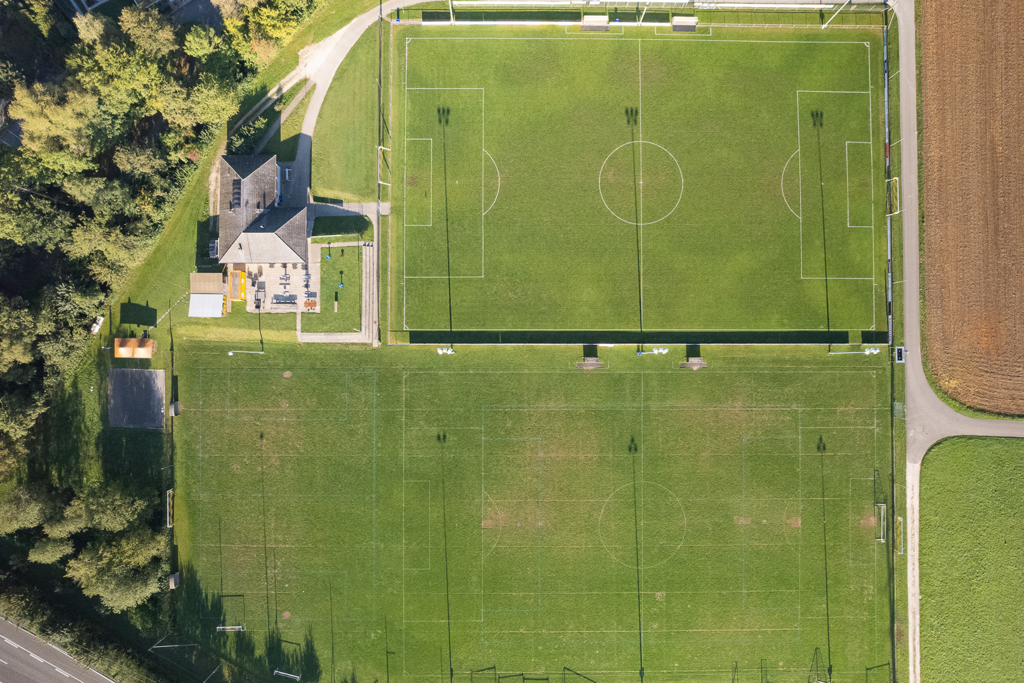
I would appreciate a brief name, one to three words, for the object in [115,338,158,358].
gazebo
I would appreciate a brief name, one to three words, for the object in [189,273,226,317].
shed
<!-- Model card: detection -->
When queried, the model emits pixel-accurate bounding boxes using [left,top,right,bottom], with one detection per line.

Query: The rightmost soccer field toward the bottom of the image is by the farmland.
[385,345,892,683]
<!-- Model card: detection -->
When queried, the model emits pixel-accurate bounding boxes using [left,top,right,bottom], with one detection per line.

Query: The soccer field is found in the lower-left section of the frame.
[174,345,385,683]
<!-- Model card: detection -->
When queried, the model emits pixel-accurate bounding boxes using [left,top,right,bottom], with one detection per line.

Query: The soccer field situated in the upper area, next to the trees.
[391,24,889,344]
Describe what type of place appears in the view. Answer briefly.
sports ground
